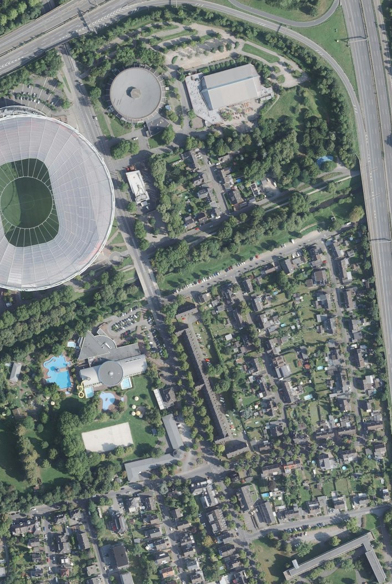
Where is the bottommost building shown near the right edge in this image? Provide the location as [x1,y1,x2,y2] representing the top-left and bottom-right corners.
[285,531,389,584]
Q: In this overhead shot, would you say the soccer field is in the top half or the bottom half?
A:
top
